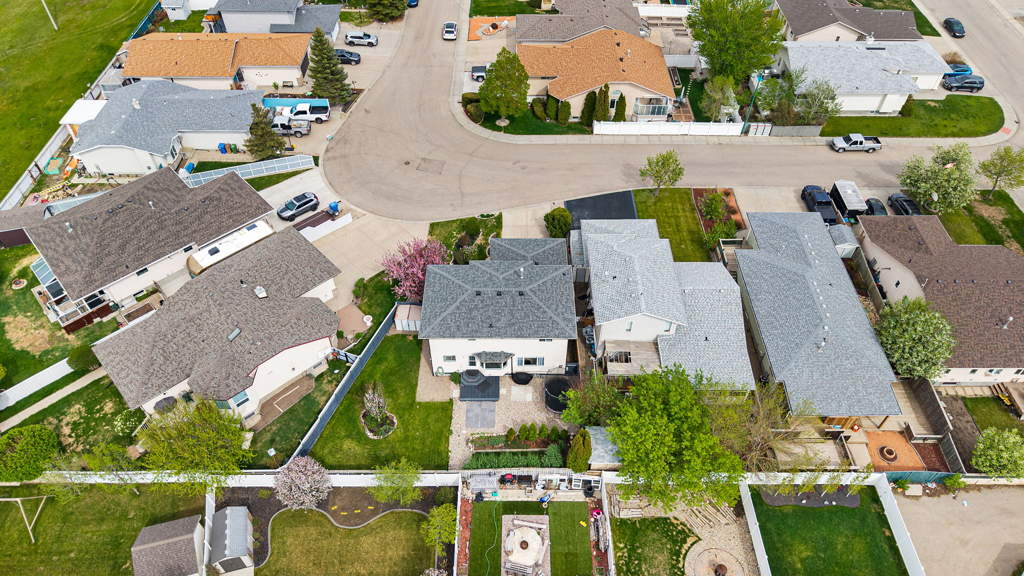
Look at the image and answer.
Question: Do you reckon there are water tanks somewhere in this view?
No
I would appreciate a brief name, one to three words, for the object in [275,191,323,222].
car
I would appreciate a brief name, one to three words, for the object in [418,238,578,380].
house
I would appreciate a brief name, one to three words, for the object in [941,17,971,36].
car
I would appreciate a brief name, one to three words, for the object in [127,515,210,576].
shed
